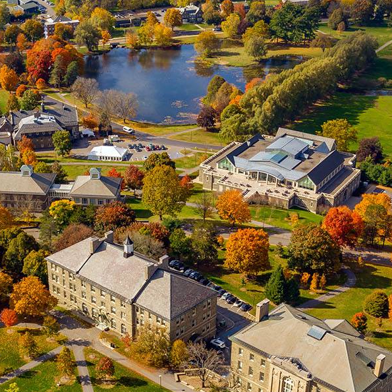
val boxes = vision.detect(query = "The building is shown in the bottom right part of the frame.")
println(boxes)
[227,300,392,392]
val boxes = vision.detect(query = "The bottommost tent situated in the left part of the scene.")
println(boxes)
[87,146,124,161]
